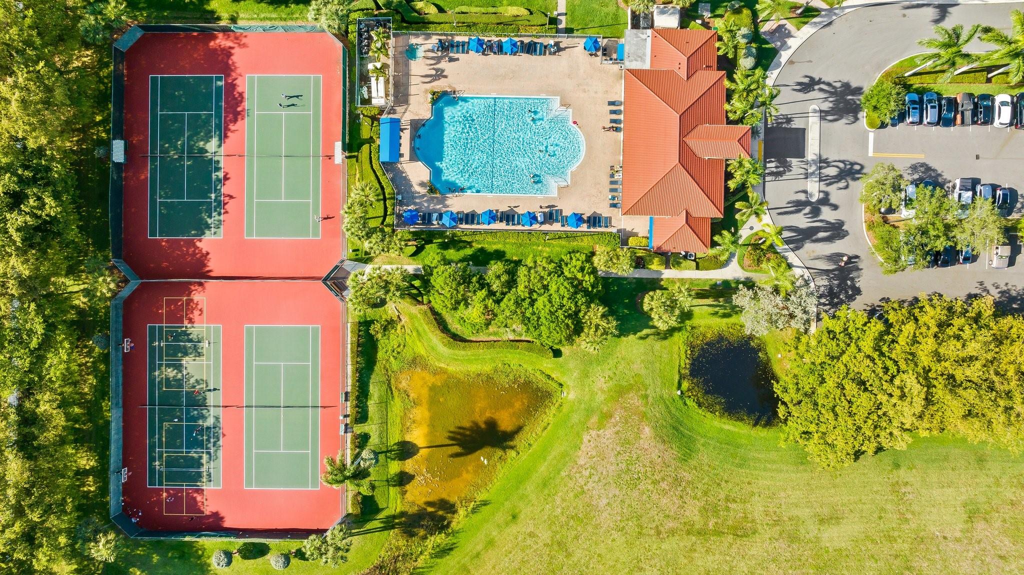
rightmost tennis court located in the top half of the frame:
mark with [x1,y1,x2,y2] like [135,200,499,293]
[233,75,329,238]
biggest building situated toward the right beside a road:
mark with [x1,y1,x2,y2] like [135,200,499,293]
[620,28,752,253]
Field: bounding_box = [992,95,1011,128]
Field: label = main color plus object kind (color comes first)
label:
white car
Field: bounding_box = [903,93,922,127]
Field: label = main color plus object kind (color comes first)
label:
blue car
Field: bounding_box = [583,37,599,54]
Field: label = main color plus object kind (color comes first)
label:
blue umbrella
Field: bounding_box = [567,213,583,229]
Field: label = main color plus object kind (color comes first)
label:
blue umbrella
